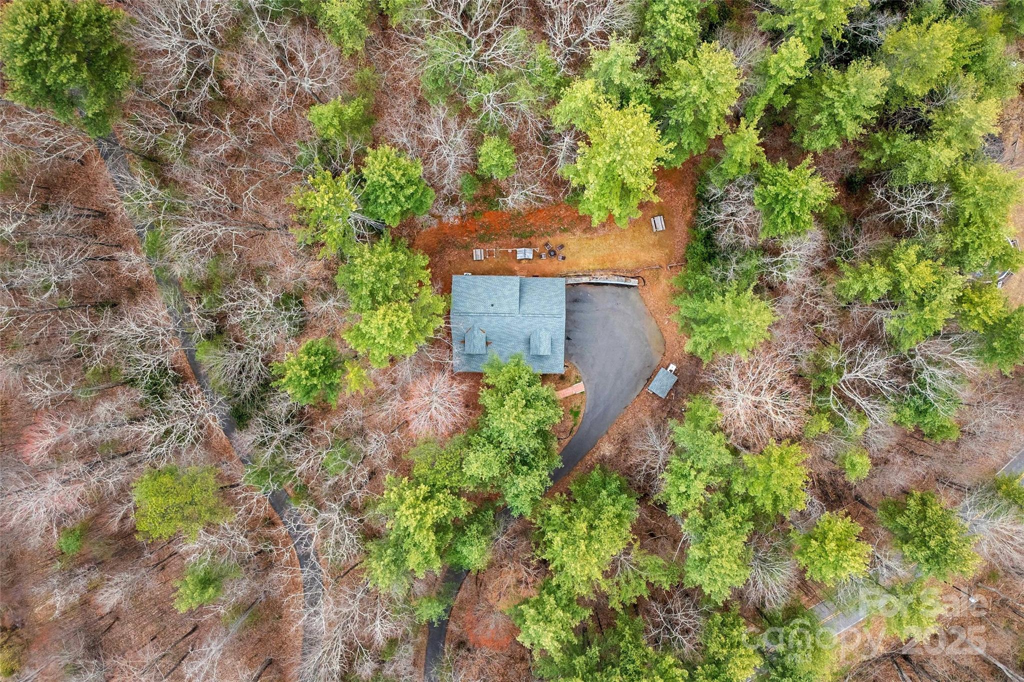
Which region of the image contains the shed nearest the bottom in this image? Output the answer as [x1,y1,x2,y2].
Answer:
[647,367,677,399]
